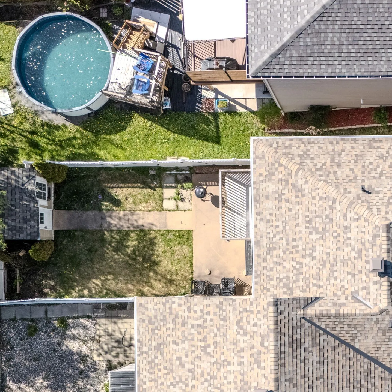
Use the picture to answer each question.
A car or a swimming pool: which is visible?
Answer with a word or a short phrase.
swimming pool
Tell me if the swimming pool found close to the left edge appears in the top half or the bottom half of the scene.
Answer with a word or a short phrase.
top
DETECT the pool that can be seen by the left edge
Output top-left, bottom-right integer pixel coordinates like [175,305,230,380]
[11,10,120,118]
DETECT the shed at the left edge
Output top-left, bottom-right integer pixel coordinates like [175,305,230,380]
[0,169,54,239]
